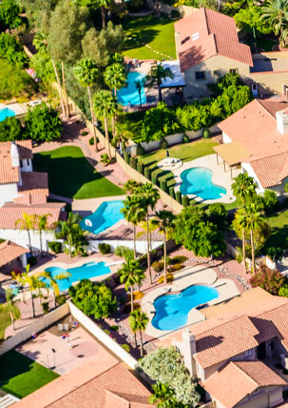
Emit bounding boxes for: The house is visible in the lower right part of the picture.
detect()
[177,288,288,408]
